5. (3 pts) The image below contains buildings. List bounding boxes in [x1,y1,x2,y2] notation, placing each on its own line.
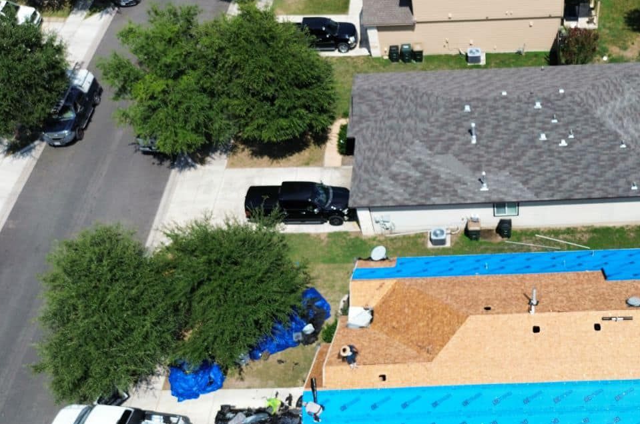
[347,59,640,239]
[300,248,640,424]
[363,0,604,61]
